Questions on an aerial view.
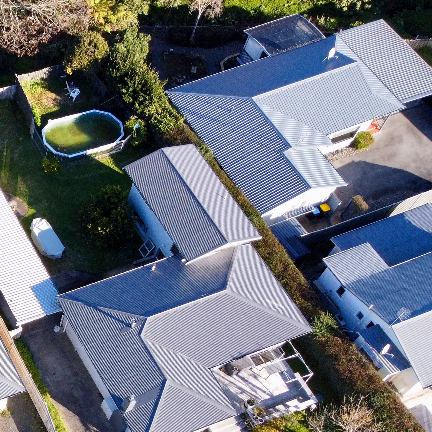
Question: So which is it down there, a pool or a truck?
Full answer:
Visible in the photo is a pool.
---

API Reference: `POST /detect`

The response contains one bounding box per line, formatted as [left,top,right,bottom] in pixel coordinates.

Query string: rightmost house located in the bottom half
[307,203,432,398]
